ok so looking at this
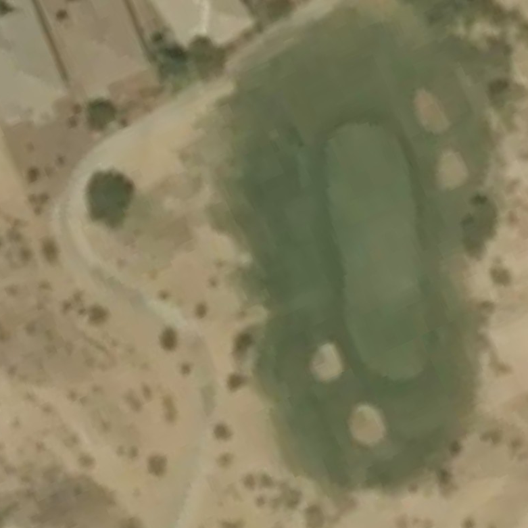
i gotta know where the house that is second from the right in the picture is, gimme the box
[43,0,147,93]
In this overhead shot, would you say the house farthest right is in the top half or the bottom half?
top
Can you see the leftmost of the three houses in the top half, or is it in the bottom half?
top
